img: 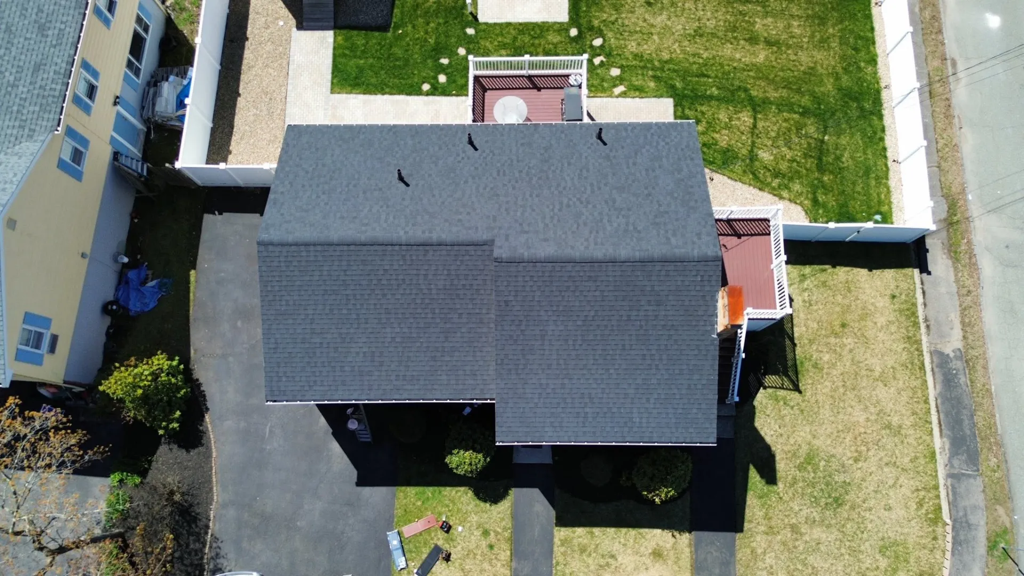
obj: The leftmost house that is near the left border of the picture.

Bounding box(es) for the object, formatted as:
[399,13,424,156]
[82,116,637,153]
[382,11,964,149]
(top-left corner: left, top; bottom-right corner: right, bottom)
[0,0,167,393]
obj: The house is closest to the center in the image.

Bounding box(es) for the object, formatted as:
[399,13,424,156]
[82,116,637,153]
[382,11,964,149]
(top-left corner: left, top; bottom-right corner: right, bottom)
[259,120,745,448]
